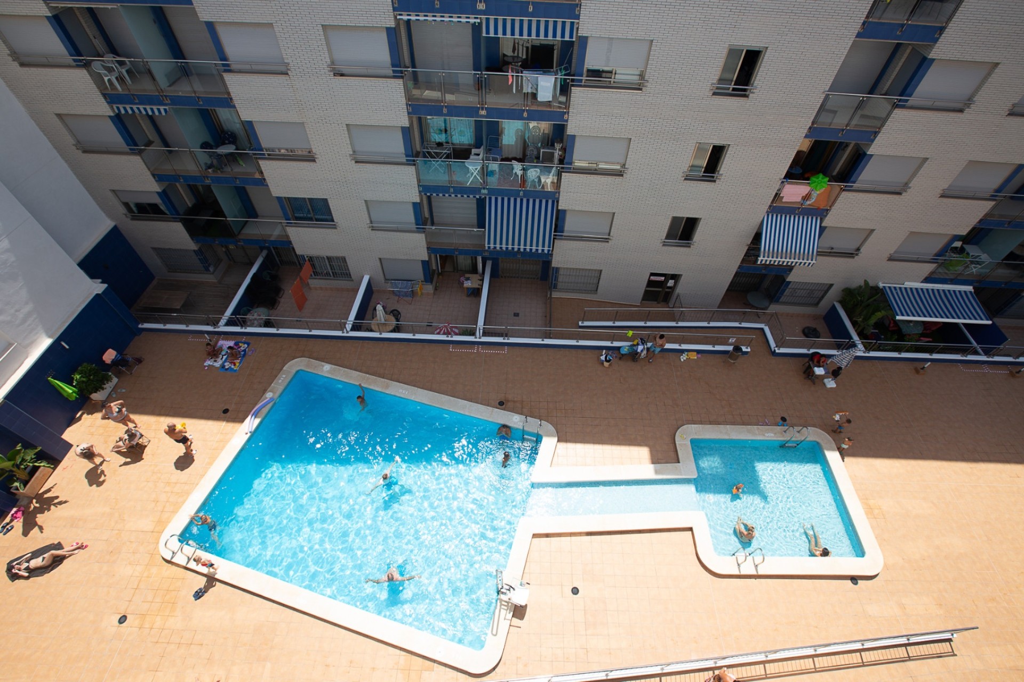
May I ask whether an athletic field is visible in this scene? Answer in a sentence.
No, there isn't any athletic field down there.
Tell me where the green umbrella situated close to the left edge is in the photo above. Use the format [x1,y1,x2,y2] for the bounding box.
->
[44,376,75,396]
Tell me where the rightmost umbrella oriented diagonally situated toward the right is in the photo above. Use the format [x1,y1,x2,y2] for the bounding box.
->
[833,338,870,379]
